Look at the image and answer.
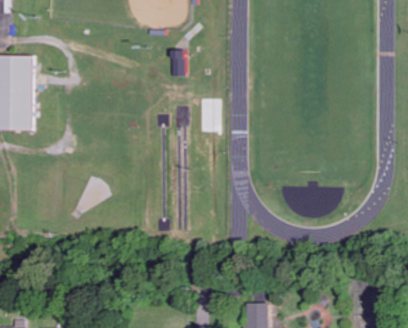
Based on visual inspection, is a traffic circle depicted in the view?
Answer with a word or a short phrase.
No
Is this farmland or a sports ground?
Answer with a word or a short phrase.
sports ground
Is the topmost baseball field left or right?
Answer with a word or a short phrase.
left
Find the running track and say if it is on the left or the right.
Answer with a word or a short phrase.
right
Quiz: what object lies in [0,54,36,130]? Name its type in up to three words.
building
